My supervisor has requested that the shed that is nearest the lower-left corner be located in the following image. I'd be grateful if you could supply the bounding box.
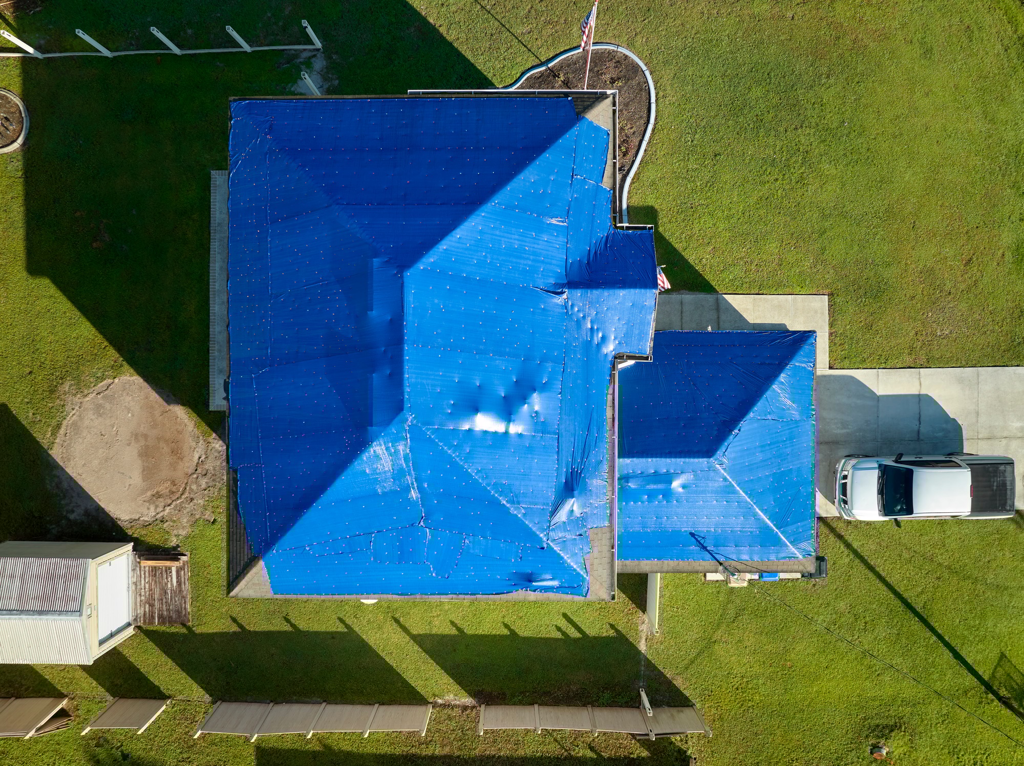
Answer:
[0,544,136,666]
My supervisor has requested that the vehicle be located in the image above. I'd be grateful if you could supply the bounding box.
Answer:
[831,452,1017,528]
